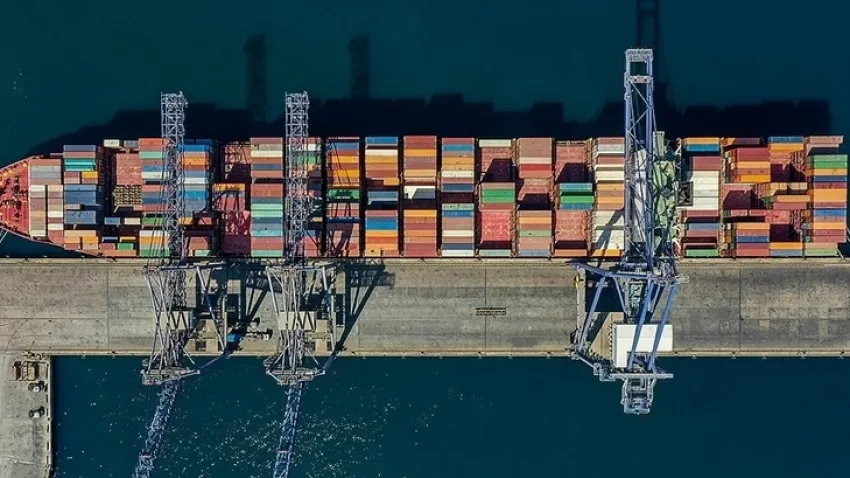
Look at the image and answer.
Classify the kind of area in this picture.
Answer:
port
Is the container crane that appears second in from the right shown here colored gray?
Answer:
Yes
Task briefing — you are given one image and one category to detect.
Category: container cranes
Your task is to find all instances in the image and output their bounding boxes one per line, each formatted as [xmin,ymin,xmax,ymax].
[554,44,689,417]
[129,89,240,478]
[265,89,347,478]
